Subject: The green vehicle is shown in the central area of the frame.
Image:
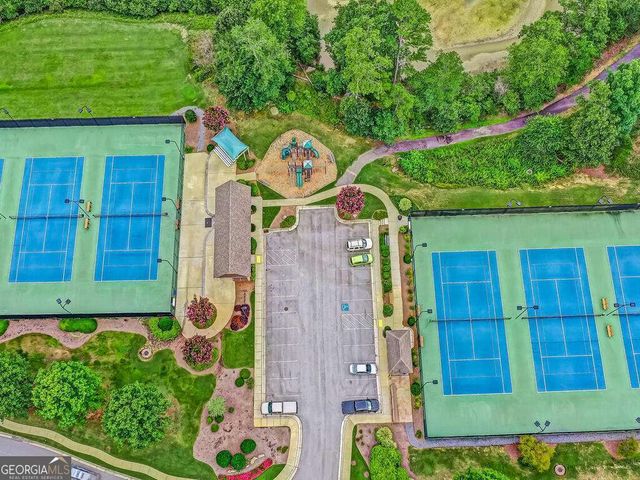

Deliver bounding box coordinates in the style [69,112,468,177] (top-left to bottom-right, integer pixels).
[350,253,372,266]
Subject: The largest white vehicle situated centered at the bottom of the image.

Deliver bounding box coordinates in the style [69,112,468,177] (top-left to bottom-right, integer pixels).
[261,400,298,416]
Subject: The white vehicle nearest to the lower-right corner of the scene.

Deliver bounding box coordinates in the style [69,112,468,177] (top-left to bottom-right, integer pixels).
[350,361,376,376]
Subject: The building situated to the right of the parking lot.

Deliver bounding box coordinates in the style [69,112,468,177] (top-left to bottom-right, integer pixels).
[386,329,413,374]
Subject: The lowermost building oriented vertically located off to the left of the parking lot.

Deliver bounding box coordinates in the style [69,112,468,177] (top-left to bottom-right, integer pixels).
[213,181,252,281]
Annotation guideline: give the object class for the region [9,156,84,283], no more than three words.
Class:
tennis court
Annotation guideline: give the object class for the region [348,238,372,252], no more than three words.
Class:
car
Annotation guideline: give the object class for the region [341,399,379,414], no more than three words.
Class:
vehicle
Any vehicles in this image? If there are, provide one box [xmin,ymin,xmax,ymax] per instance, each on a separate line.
[350,253,372,266]
[348,238,372,252]
[350,361,376,376]
[341,399,379,414]
[261,400,298,416]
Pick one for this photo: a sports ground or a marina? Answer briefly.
sports ground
